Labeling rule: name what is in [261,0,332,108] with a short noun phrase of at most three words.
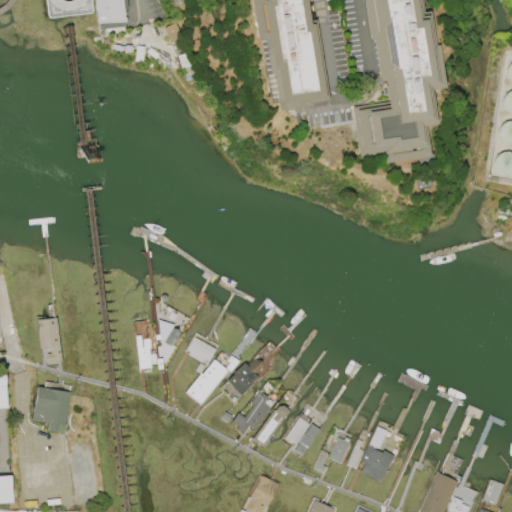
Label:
building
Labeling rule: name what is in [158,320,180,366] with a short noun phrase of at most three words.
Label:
house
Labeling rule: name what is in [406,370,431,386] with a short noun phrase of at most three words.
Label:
boat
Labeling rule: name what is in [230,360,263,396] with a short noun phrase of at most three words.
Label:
house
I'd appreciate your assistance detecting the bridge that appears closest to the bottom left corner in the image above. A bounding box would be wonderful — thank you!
[82,186,136,512]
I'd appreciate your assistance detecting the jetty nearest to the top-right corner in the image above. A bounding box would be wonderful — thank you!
[420,236,498,260]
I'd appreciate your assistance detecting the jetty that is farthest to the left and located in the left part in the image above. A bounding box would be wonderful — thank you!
[28,217,57,302]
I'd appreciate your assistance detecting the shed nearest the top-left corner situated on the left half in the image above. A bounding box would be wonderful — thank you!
[98,0,127,29]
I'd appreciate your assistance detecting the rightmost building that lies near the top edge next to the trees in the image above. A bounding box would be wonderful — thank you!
[354,0,448,167]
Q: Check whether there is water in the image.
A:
Yes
